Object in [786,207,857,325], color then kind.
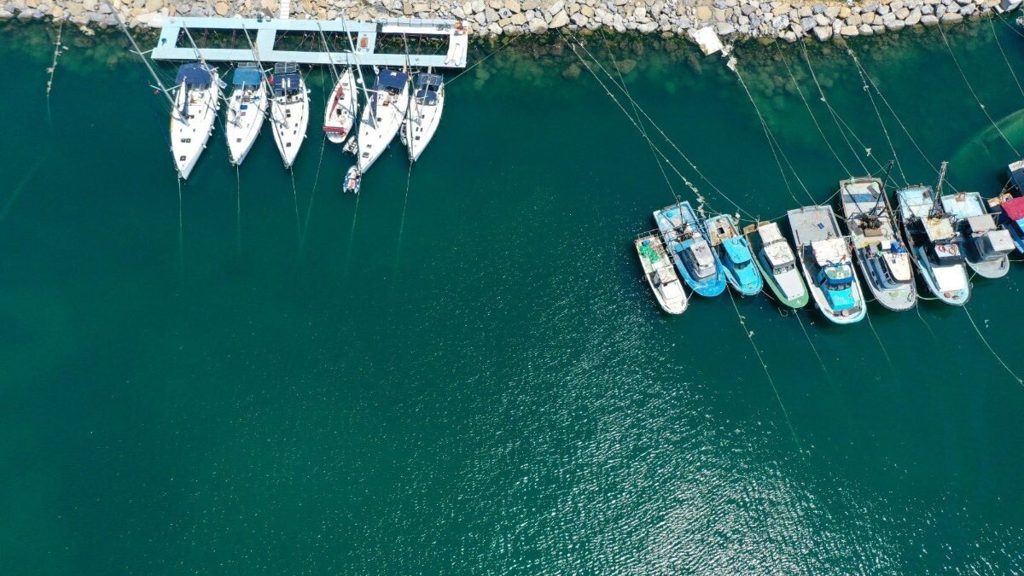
white boat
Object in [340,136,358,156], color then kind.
gray boat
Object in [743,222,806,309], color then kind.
white boat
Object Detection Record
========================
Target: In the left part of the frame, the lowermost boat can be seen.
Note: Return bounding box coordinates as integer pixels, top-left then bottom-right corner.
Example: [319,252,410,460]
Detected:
[343,167,363,198]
